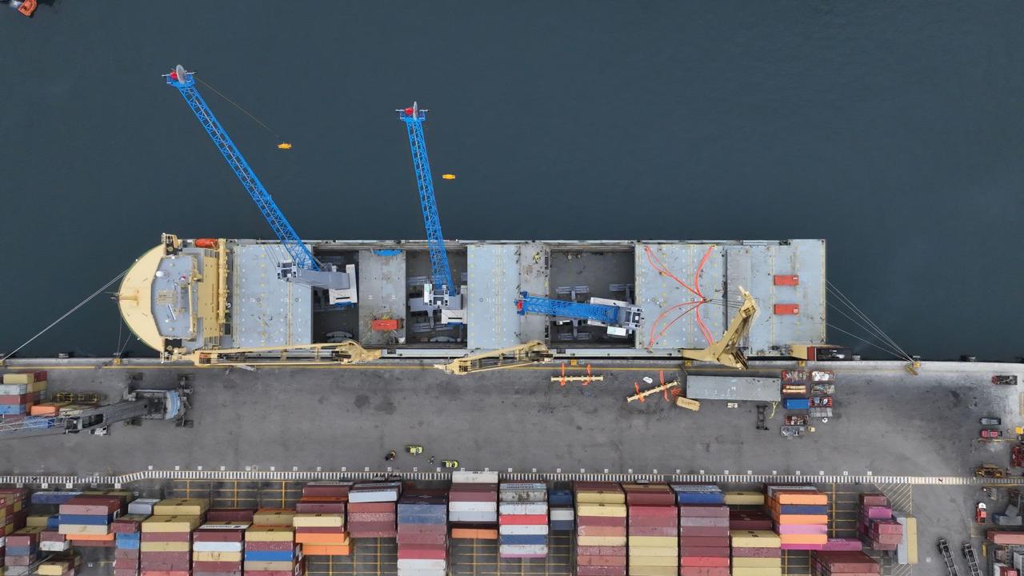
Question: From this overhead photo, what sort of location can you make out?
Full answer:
This looks like a port.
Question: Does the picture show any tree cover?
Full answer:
No, there's no tree cover in this view.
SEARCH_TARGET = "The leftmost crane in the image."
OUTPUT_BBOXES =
[0,373,194,446]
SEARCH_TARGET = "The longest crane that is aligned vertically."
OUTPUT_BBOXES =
[395,100,465,332]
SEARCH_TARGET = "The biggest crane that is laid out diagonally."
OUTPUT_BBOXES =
[160,63,362,314]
